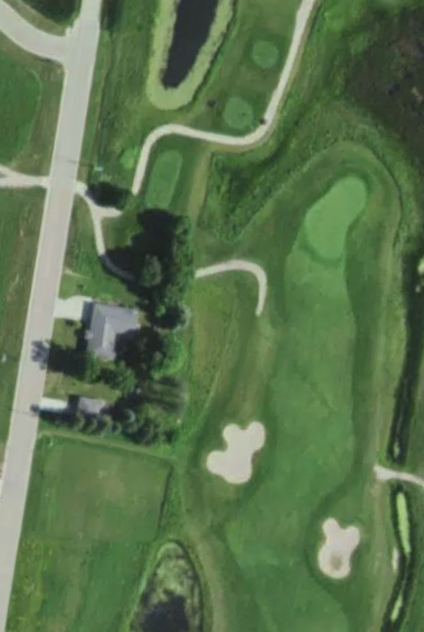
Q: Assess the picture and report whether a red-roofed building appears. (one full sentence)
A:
No, this view has no red-roofed building in it.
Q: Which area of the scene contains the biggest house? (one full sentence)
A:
The biggest house sits in the left section of the image.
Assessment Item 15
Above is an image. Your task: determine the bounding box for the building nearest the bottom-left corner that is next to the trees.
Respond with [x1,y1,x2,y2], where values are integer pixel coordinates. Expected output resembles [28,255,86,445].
[76,398,105,416]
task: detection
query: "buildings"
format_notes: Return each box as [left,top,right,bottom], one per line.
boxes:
[76,398,105,416]
[85,299,144,360]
